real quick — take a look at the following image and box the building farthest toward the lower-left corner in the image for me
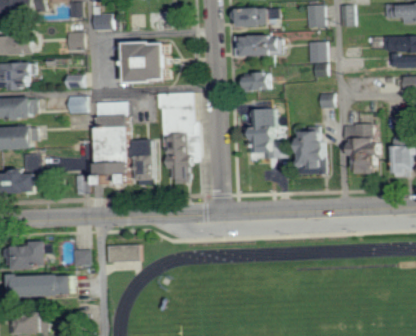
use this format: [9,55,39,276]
[9,312,52,336]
